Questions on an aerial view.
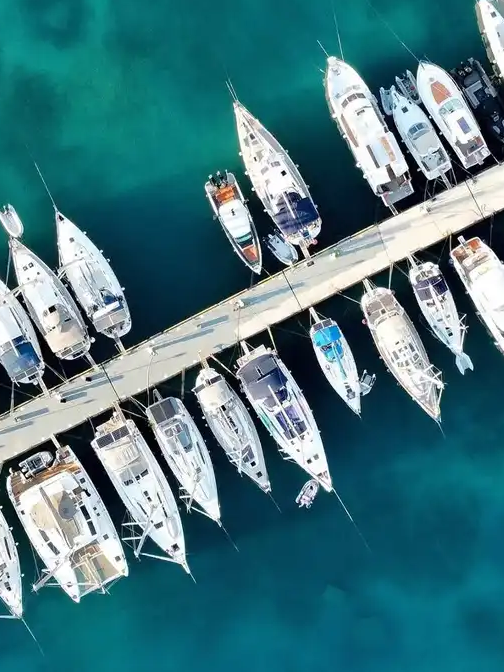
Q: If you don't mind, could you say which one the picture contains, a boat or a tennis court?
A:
boat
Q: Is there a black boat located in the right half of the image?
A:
Yes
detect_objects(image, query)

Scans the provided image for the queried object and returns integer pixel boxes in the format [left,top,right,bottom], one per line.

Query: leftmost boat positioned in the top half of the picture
[0,200,22,240]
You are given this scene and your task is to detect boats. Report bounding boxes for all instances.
[394,69,421,104]
[318,21,420,222]
[88,400,192,574]
[183,351,279,508]
[449,52,504,149]
[395,244,473,354]
[0,279,66,409]
[38,170,155,361]
[129,368,237,550]
[452,350,474,379]
[204,168,271,293]
[339,272,445,430]
[262,228,297,271]
[445,218,504,349]
[0,200,22,240]
[299,307,362,418]
[2,235,99,379]
[360,372,376,394]
[391,87,457,200]
[227,83,332,261]
[293,480,319,508]
[3,428,127,601]
[0,510,42,653]
[213,328,369,549]
[387,22,499,178]
[19,451,53,472]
